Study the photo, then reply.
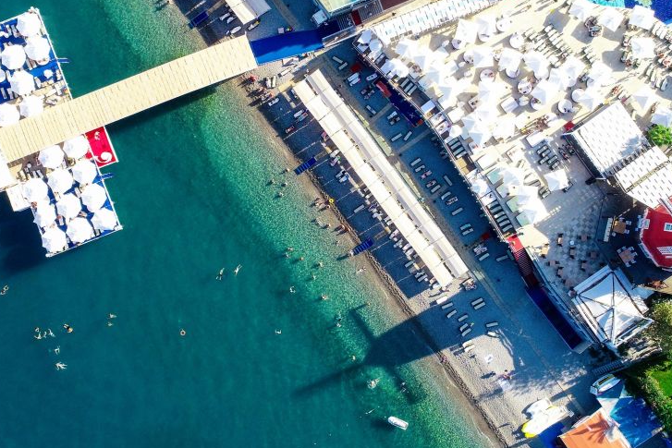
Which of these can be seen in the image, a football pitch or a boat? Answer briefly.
boat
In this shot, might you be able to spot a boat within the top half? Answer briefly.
No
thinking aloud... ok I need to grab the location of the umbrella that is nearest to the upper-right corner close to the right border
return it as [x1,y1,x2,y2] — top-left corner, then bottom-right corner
[627,4,654,32]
